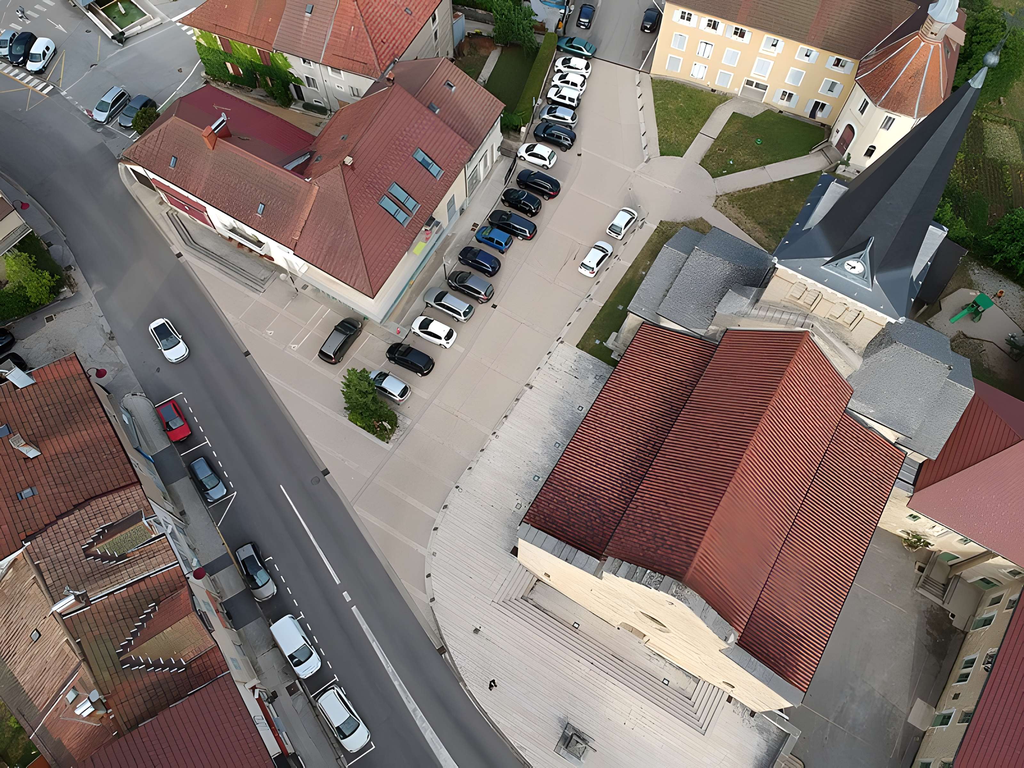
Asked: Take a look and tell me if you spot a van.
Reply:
Yes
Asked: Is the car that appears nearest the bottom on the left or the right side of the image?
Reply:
left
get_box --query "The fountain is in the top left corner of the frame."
[75,0,164,46]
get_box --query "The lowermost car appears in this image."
[316,682,370,754]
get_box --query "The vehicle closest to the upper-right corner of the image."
[638,9,660,35]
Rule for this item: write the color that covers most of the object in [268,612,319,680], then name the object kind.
white van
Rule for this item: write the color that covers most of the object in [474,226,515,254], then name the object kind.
blue car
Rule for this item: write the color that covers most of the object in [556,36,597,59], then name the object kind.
blue car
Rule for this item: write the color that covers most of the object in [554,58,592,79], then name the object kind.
white car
